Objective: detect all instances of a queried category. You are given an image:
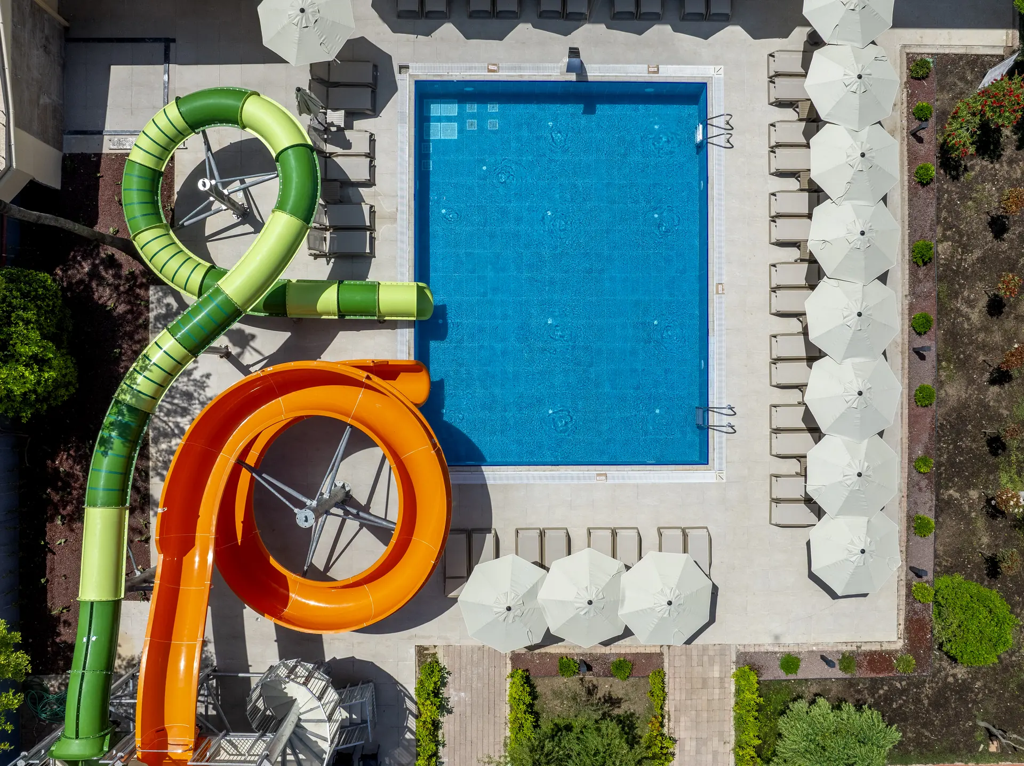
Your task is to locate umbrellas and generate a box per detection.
[806,508,899,592]
[295,86,335,133]
[805,0,894,54]
[803,43,898,126]
[808,118,897,200]
[544,546,630,643]
[460,552,550,649]
[261,0,355,66]
[803,353,899,437]
[804,274,897,359]
[804,195,900,277]
[623,549,711,642]
[805,430,894,512]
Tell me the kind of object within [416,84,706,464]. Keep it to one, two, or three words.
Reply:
swimming pool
